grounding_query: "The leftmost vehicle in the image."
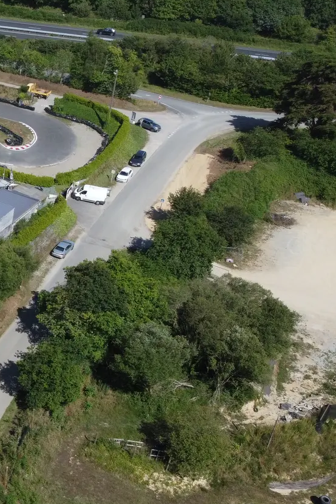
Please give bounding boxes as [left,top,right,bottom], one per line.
[25,82,54,98]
